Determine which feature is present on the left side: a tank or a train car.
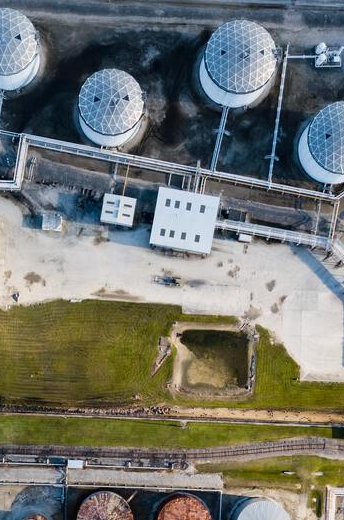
tank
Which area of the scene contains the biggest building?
center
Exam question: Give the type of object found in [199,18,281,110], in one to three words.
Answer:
storage tank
